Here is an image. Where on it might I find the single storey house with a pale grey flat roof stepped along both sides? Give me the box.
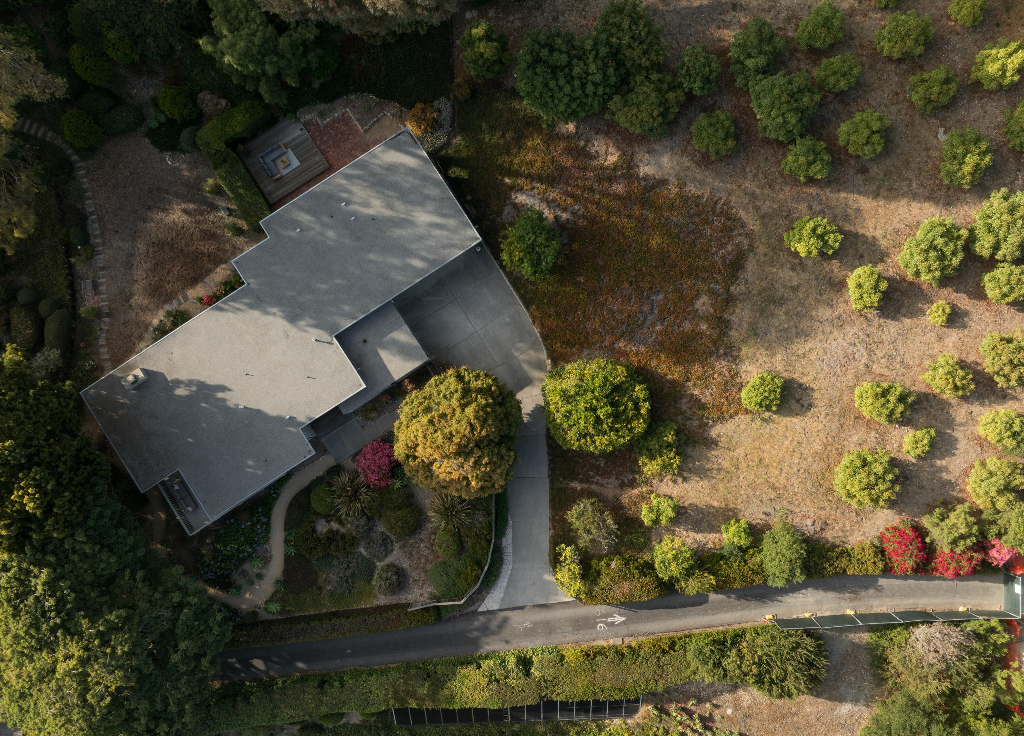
[81,128,482,535]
